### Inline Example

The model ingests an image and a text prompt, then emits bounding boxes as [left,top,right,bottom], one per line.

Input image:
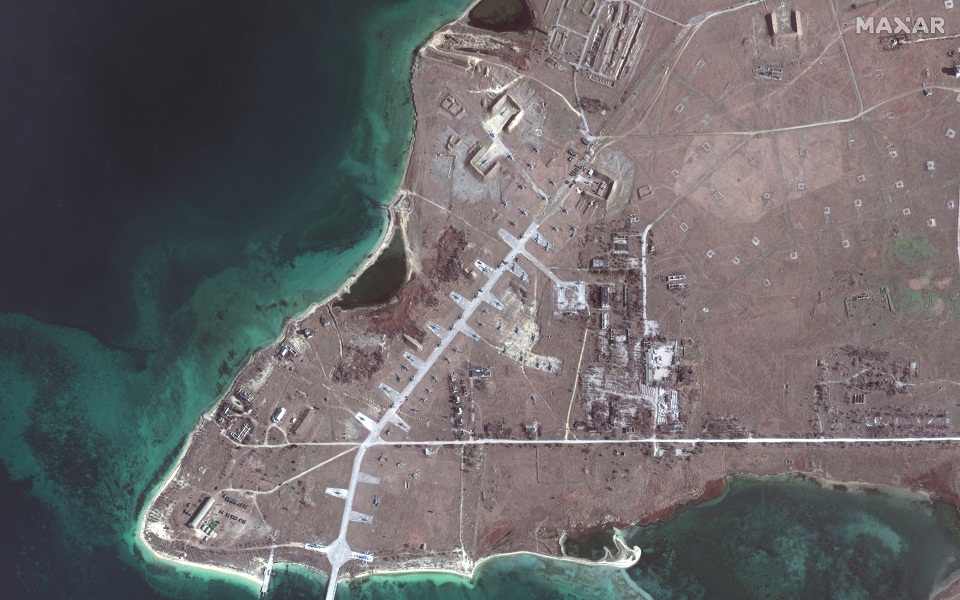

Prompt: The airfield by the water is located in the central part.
[305,104,592,570]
